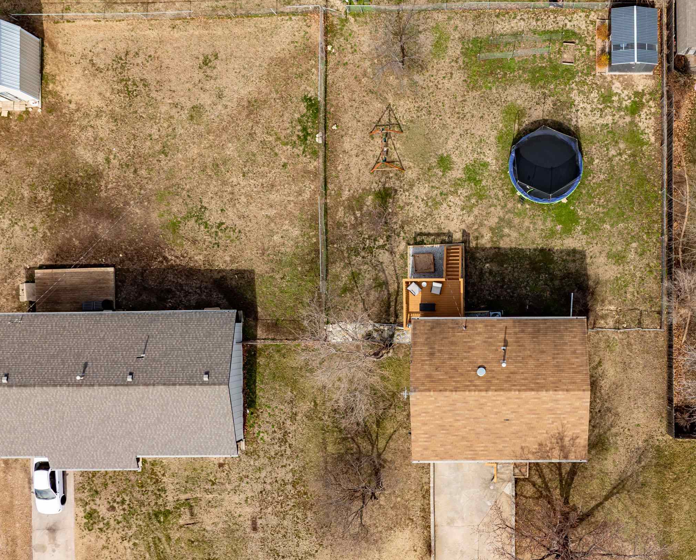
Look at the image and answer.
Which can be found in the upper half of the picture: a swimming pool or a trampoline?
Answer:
trampoline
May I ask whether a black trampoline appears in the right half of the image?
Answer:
Yes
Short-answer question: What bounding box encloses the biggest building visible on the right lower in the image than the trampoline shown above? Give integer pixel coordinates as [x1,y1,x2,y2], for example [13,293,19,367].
[400,316,590,464]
